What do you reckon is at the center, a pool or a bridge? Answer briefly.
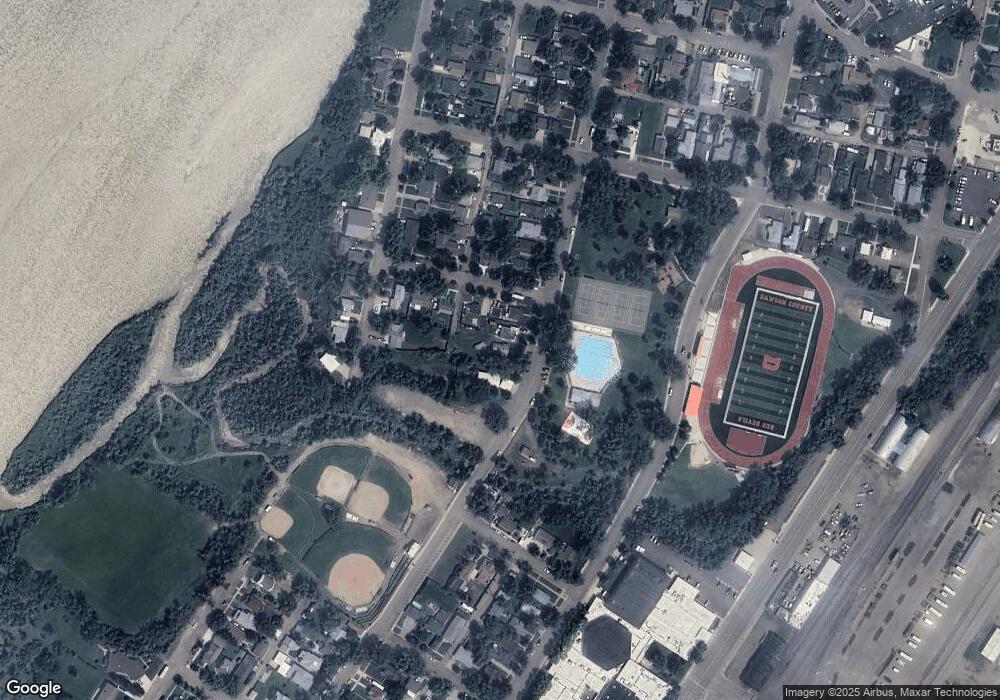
pool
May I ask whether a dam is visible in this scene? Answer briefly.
No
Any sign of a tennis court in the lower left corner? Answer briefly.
No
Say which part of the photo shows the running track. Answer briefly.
right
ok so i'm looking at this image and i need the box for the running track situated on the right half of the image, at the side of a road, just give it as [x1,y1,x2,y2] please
[699,256,836,468]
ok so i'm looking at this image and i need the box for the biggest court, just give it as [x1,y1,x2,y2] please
[571,276,652,334]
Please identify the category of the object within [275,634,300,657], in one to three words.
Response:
house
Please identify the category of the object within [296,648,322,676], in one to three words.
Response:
house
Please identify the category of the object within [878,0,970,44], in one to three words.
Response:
building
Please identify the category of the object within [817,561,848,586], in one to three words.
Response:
building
